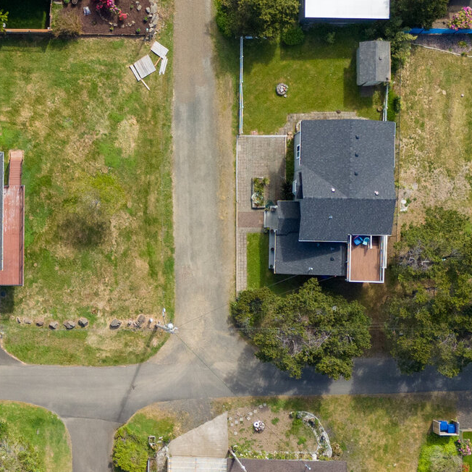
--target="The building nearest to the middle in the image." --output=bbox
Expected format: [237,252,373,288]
[264,119,396,283]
